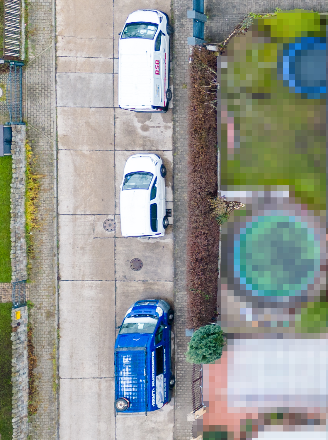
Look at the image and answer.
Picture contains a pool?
Yes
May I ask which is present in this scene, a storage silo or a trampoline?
trampoline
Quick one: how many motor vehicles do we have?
3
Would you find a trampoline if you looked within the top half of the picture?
Yes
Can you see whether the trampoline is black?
No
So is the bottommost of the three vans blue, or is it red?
blue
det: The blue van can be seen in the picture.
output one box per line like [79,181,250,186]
[113,298,177,416]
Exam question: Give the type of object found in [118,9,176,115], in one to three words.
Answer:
van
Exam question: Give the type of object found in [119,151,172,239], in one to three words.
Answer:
van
